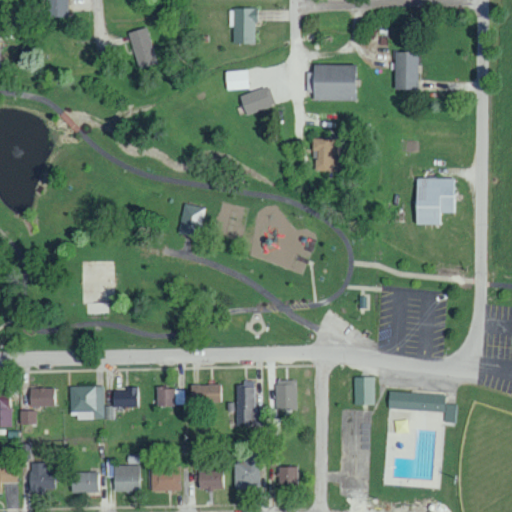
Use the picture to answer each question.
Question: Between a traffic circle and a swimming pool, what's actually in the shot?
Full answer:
Looking from above, you can make out a swimming pool.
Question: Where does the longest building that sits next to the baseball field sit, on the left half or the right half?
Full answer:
The longest building that sits next to the baseball field appears in the right half of the scene.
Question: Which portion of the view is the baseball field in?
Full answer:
Look in the bottom right portion of the view to spot the baseball field.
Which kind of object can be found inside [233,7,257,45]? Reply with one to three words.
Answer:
house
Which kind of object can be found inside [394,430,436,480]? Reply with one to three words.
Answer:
swimming pool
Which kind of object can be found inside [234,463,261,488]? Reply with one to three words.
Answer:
house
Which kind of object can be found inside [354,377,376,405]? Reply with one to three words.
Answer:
building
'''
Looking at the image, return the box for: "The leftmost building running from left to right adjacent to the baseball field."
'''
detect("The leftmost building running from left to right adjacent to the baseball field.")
[388,391,446,410]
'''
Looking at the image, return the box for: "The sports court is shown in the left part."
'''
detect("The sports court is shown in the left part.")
[82,261,115,304]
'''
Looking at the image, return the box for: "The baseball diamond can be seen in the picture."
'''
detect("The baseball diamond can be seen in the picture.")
[460,402,512,512]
